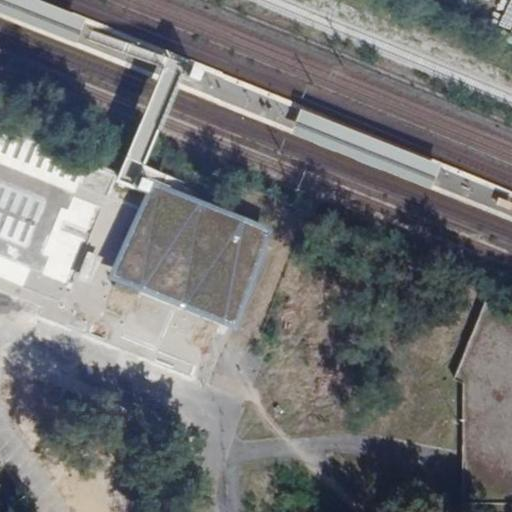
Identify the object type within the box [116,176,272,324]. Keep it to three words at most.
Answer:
building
